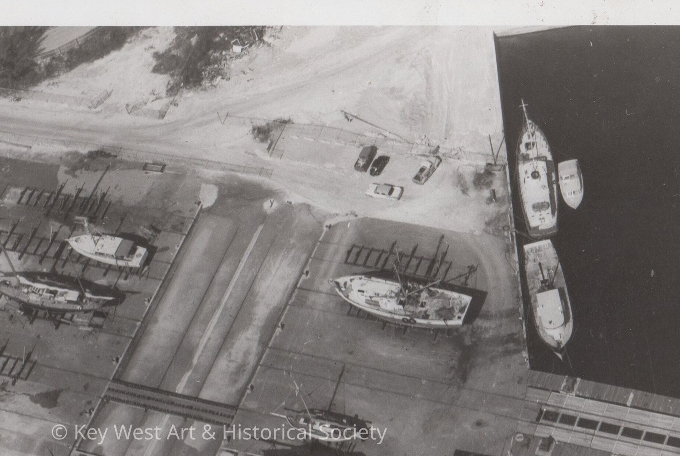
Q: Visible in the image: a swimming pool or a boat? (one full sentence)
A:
There is a boat in the scene.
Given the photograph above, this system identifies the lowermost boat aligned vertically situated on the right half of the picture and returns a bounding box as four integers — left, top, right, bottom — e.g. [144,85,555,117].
[517,238,576,358]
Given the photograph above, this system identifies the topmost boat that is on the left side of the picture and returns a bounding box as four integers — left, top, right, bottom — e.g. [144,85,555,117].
[65,216,150,270]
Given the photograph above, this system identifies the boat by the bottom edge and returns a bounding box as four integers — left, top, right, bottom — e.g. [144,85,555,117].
[270,377,371,440]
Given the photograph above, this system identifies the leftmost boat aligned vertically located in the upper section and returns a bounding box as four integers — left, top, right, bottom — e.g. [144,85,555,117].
[513,97,562,242]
